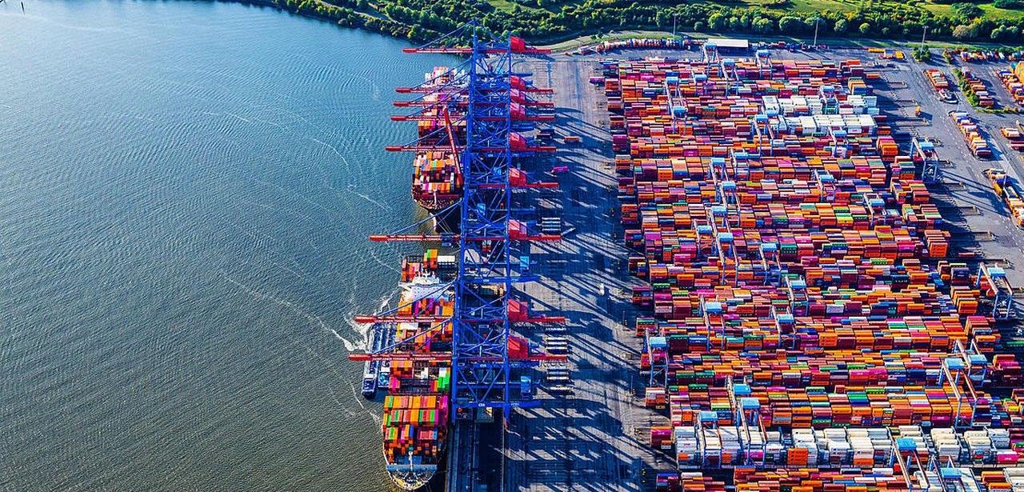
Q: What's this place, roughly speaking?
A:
port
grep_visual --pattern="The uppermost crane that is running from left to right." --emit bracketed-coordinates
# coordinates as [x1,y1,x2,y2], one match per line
[402,18,551,87]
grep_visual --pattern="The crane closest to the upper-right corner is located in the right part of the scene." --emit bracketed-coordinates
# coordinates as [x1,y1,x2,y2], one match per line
[907,138,938,182]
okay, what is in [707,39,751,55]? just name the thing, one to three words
shed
